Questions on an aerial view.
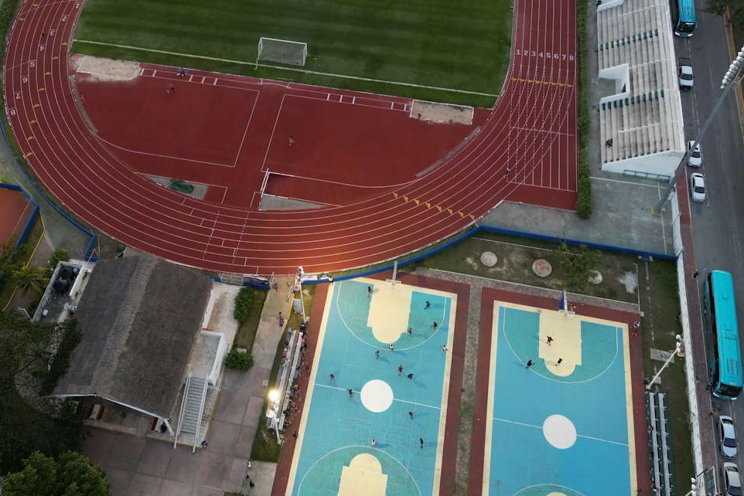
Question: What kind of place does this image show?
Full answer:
This image shows a sports ground.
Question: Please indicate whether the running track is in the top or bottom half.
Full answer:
The top half of the photo is where the running track is.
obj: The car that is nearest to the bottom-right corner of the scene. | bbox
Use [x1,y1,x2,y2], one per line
[723,461,744,496]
